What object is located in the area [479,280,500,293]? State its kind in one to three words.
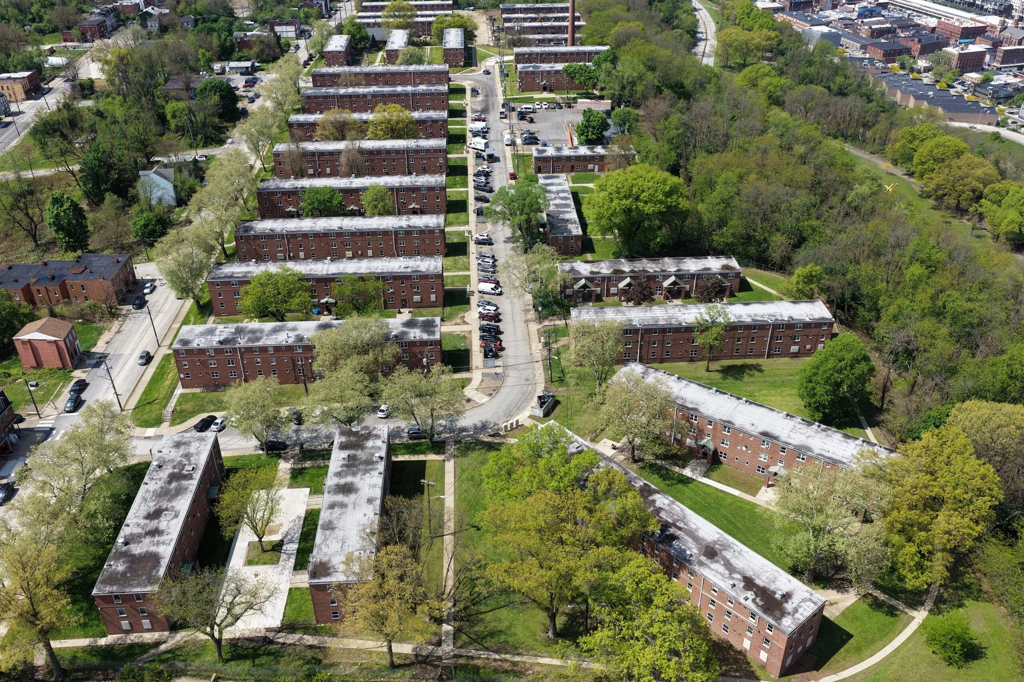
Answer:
vehicle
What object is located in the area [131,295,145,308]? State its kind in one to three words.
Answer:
vehicle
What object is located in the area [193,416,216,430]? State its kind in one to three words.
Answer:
car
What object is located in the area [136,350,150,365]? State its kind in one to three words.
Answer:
car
